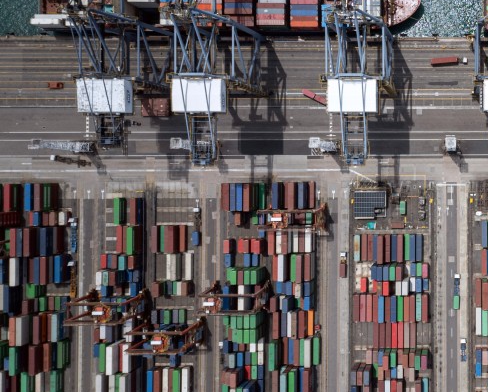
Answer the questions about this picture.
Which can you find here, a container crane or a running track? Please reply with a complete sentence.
Looking from above, you can make out a container crane.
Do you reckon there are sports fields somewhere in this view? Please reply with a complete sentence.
No, there's no sports field here.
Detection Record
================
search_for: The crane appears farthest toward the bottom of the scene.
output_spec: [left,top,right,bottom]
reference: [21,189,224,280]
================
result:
[123,316,203,356]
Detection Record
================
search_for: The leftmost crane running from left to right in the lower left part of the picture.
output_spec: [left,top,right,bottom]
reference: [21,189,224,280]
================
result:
[65,288,147,326]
